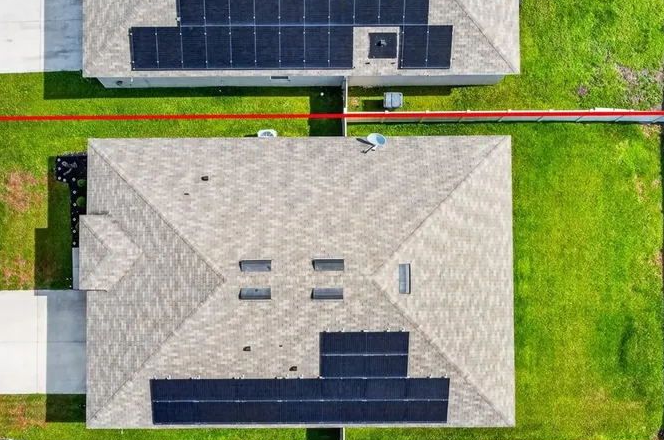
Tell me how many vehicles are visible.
0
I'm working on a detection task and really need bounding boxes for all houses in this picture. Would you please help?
[82,0,520,89]
[79,135,515,428]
